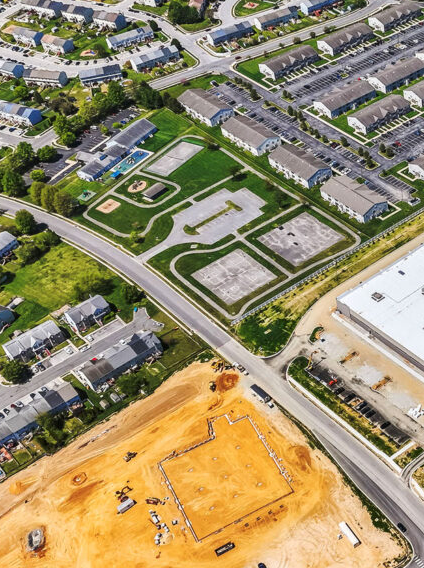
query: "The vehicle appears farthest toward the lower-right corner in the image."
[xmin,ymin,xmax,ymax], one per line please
[396,520,408,534]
